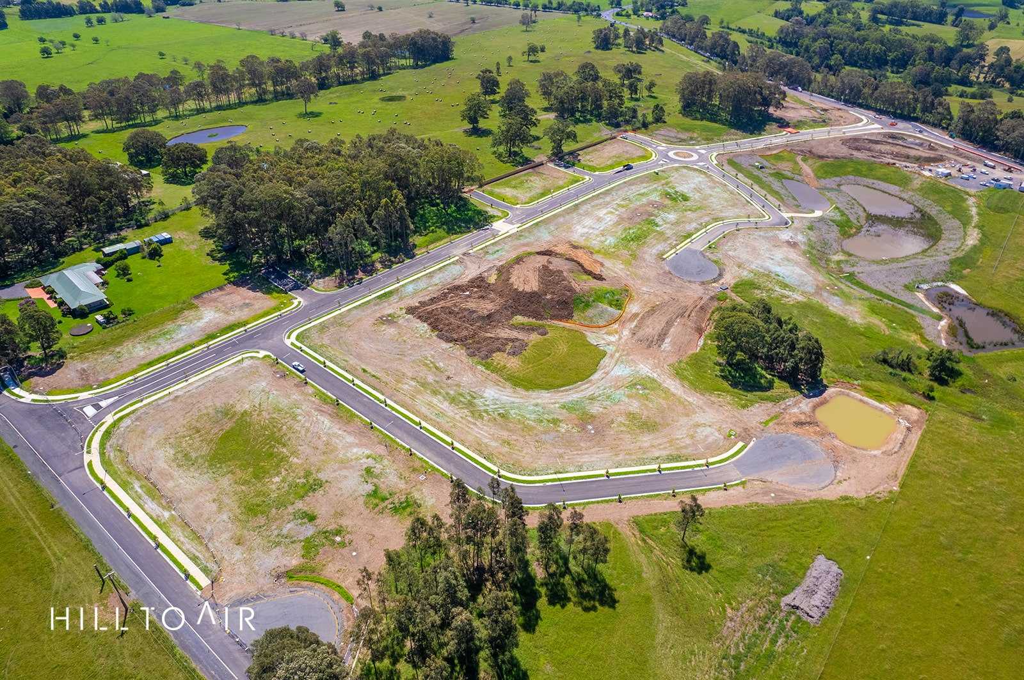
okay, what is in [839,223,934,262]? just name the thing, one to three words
pond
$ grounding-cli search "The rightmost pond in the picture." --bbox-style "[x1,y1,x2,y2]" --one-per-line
[924,286,1024,356]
